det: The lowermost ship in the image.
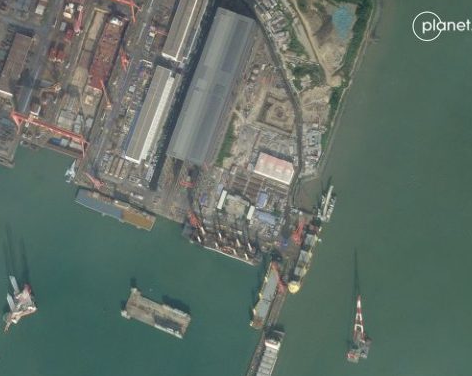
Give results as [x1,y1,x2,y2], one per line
[253,323,287,376]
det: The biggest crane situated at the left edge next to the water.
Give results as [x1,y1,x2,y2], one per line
[11,113,91,161]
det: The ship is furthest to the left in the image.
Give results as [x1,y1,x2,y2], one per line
[2,275,36,332]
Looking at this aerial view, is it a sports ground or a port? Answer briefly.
port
